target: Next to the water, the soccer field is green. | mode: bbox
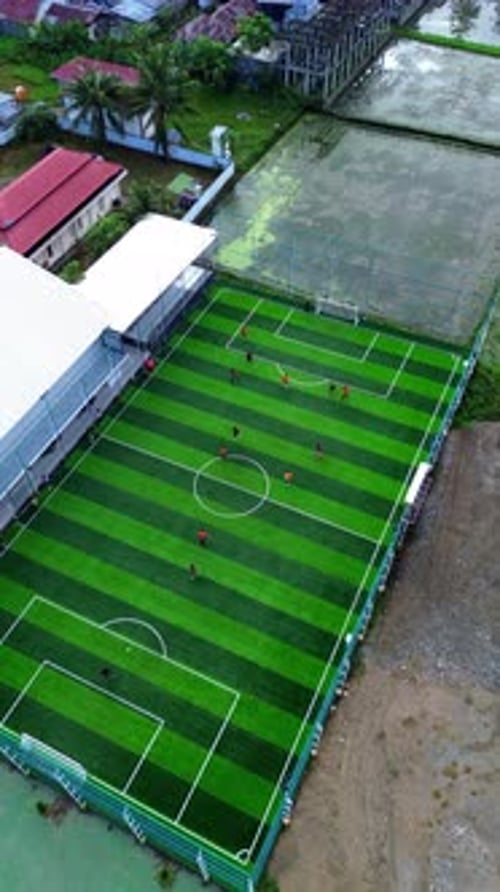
[0,280,470,892]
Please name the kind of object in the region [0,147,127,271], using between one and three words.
house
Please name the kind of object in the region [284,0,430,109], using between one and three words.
building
